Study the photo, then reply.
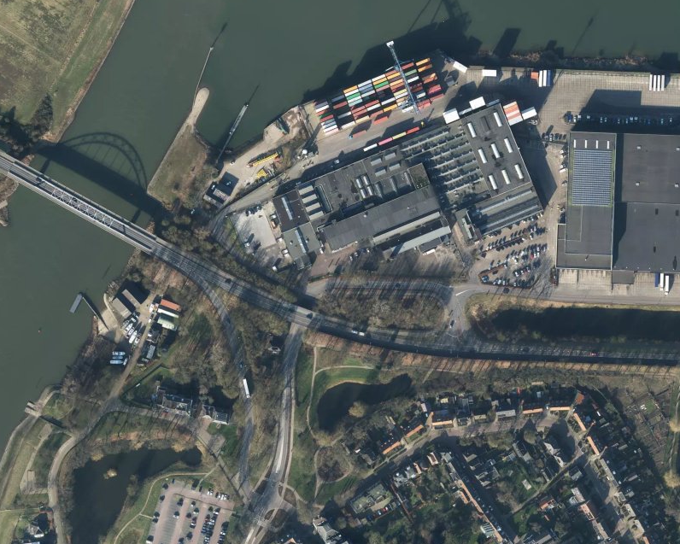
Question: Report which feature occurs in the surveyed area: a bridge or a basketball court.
bridge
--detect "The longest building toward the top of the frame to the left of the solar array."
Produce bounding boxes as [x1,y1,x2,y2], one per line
[272,102,543,268]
